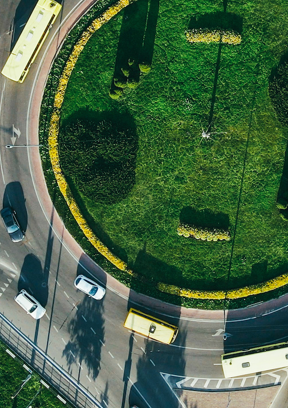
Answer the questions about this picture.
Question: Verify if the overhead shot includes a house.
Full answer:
No, I can see no house in this picture.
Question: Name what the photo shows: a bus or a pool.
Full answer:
Of the two, only a bus appears.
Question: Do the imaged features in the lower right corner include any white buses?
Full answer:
Yes, the scene does show a white bus in the lower right corner.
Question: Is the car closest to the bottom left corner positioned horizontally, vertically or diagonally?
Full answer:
The car closest to the bottom left corner has been laid out diagonally relative to the frame.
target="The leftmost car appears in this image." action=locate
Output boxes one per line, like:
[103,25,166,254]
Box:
[0,206,26,241]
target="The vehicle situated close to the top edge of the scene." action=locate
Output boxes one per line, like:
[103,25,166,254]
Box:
[1,0,63,85]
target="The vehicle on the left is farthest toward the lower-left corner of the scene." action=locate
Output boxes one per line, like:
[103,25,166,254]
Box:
[13,288,46,320]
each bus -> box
[1,0,63,85]
[221,339,288,380]
[123,305,183,349]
